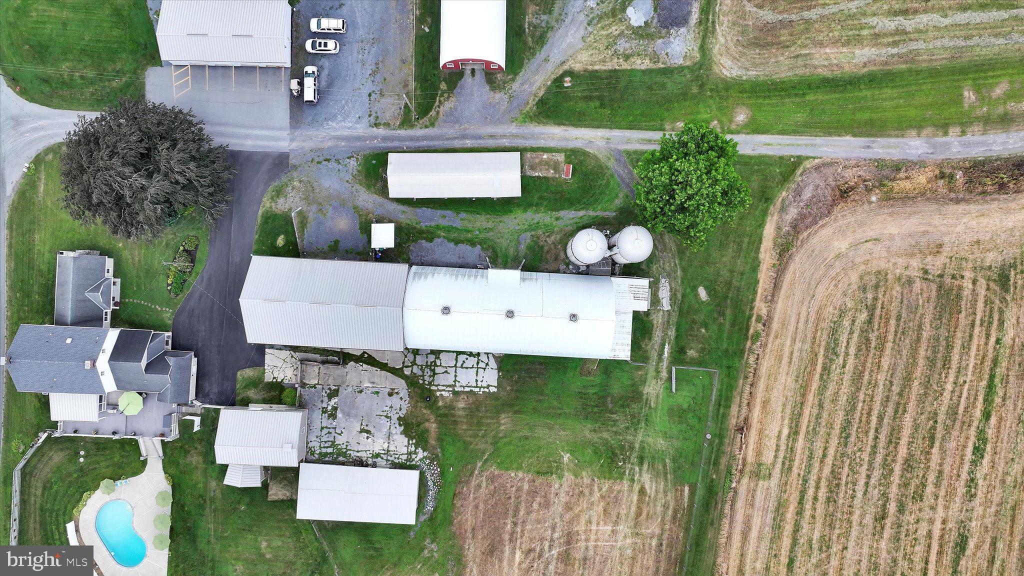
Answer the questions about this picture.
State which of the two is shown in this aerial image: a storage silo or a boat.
storage silo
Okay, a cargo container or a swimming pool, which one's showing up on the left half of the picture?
swimming pool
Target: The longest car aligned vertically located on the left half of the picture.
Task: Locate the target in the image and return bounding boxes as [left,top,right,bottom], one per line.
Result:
[304,70,321,109]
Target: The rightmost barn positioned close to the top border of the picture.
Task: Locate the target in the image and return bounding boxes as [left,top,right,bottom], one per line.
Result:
[440,0,505,73]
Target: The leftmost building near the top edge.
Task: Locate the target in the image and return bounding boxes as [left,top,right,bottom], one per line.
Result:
[156,0,292,68]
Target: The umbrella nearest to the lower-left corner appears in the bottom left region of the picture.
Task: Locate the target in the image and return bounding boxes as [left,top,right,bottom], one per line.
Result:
[101,478,118,494]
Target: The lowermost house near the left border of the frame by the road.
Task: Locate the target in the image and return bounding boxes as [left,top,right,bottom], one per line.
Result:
[0,323,200,424]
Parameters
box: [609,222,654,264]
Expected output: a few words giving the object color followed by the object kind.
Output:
white silo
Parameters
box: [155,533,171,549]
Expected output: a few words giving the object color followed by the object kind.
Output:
green umbrella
